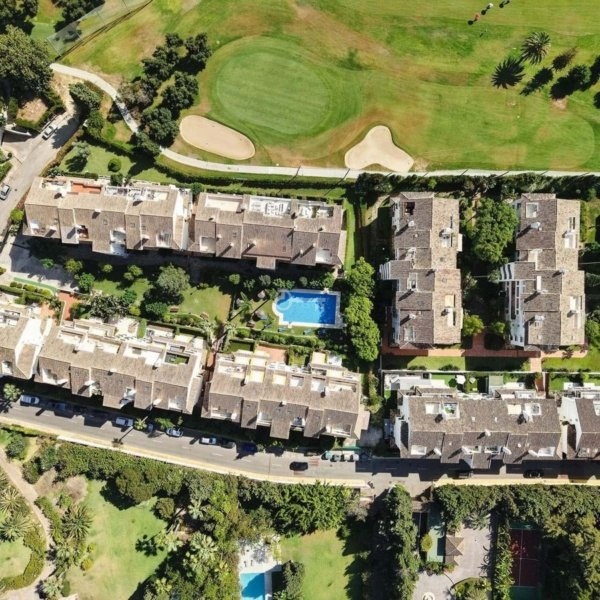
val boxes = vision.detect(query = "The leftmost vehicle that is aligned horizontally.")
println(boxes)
[18,394,40,406]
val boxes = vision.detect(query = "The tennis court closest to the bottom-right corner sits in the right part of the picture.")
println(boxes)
[506,520,547,600]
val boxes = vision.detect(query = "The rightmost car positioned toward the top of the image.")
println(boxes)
[40,120,59,139]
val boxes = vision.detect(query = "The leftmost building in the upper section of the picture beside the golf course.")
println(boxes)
[23,177,194,259]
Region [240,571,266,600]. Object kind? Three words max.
swimming pool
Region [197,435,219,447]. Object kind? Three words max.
vehicle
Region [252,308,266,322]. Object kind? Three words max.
umbrella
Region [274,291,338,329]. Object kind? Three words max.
swimming pool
